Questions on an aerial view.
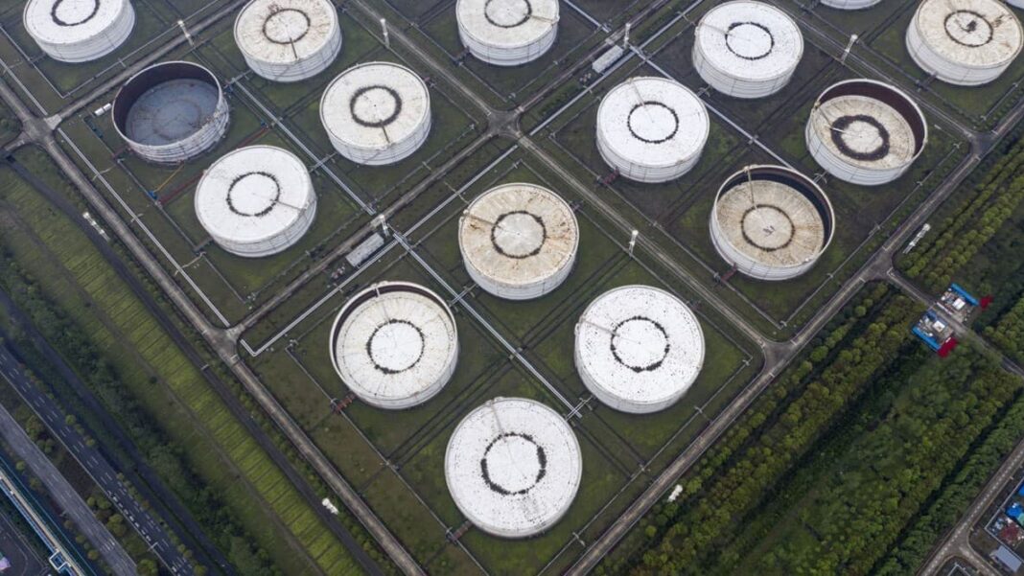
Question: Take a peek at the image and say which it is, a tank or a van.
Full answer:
The one in the frame is a tank.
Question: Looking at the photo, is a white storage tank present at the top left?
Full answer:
Yes, looking at the top left, one can make out a white storage tank.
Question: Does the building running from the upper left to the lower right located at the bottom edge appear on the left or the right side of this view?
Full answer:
You can find the building running from the upper left to the lower right located at the bottom edge on the right side of the picture.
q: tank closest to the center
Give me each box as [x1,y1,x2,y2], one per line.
[457,181,580,302]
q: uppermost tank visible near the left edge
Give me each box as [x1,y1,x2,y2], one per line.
[21,0,138,64]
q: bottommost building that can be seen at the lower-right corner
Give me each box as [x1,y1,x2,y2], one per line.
[993,543,1024,572]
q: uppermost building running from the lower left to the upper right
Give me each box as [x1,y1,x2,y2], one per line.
[591,41,626,72]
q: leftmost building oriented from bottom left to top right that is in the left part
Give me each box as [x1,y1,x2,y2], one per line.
[345,230,386,266]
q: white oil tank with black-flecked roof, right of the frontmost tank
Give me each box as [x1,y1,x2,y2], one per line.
[572,283,707,416]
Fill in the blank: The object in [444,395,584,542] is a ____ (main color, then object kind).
white storage tank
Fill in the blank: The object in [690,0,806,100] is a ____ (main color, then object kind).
white storage tank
